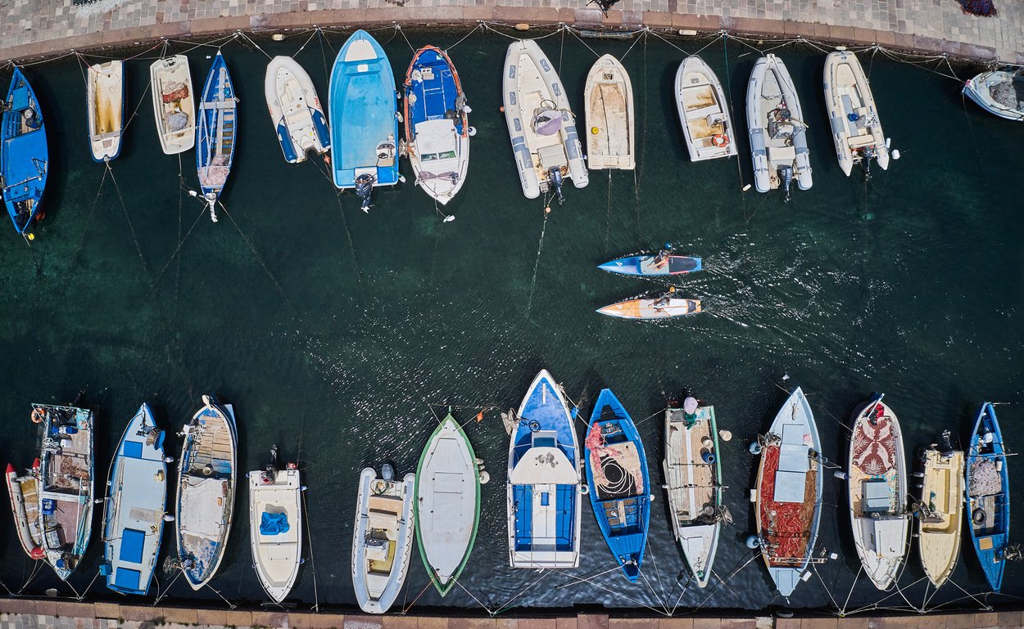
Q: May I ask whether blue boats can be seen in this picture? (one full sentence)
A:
Yes, the picture does show a blue boat.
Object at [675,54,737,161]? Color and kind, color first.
white boat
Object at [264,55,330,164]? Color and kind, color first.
white boat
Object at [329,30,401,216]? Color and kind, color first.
blue boat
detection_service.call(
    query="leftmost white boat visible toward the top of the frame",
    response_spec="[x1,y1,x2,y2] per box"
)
[88,61,128,162]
